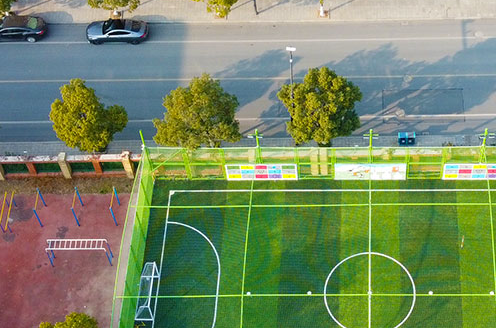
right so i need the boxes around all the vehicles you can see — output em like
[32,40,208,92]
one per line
[0,15,48,42]
[84,13,150,41]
